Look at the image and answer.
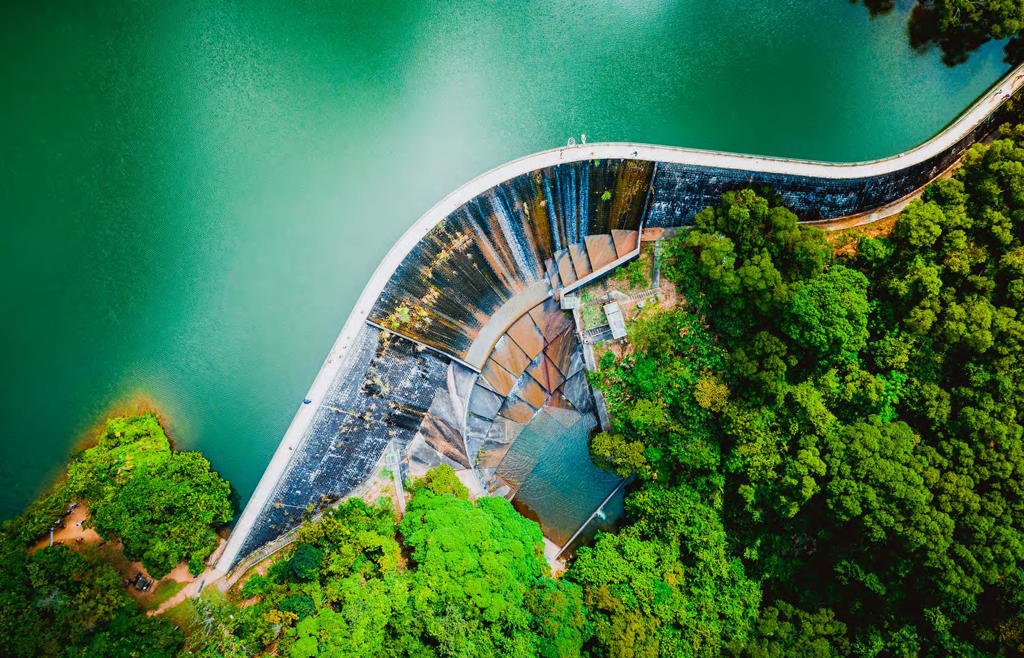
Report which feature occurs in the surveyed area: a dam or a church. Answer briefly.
dam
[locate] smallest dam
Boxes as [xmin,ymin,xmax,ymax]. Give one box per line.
[555,475,628,560]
